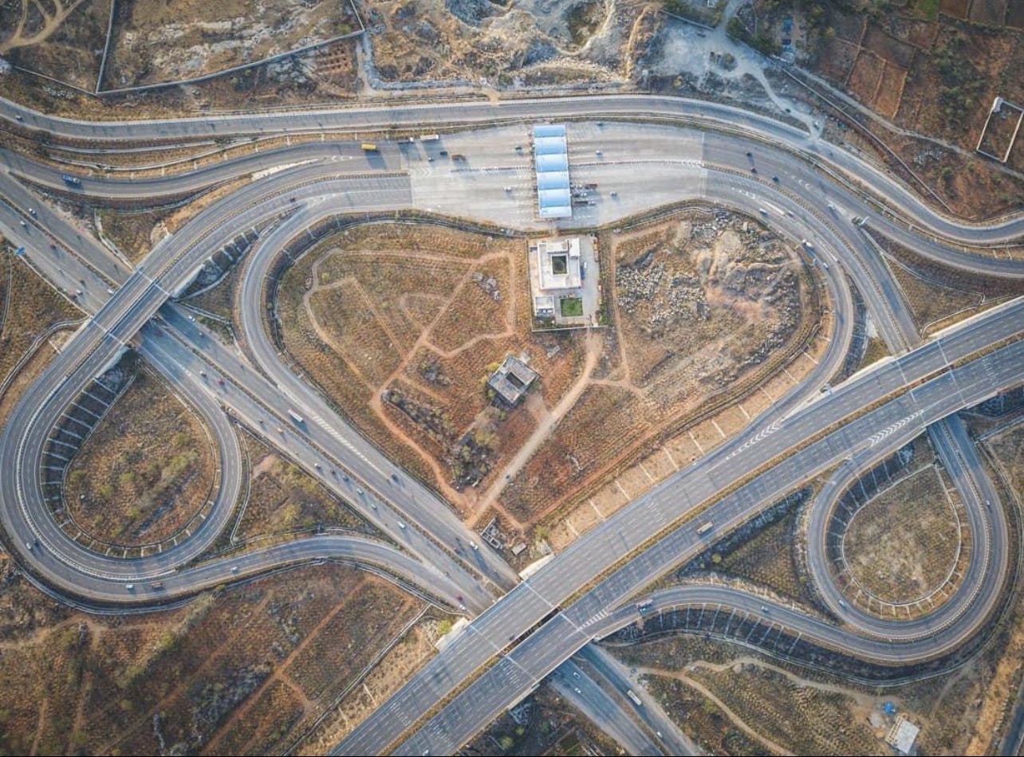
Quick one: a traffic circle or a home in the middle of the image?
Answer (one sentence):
There is a home in the middle of the image.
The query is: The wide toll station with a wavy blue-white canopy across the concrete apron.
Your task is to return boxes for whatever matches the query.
[527,125,576,225]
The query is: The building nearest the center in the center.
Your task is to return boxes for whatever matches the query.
[488,353,538,403]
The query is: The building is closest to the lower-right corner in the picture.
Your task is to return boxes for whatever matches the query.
[883,714,920,753]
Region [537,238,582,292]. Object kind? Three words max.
building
